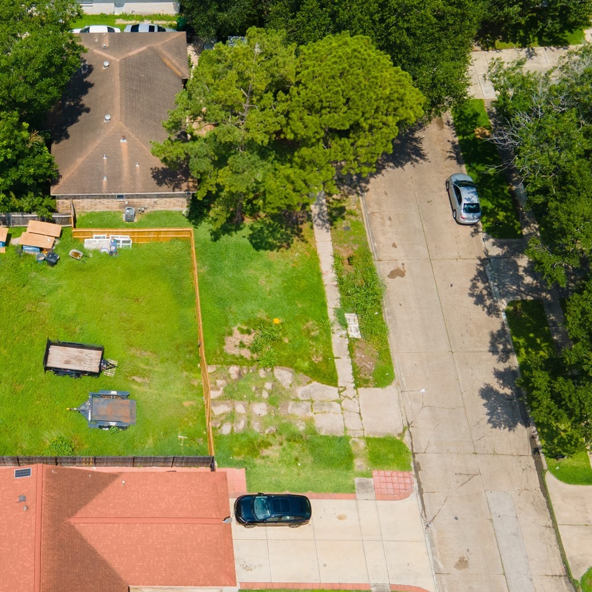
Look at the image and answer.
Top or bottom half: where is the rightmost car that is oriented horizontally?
bottom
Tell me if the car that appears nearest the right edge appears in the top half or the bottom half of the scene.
top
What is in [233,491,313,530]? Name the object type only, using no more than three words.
car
